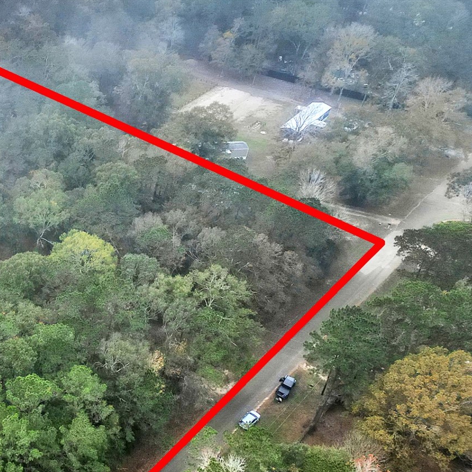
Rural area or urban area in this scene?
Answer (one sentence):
The land in this view is best described as rural.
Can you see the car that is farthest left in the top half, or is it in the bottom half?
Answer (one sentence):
The car that is farthest left is in the bottom half of the image.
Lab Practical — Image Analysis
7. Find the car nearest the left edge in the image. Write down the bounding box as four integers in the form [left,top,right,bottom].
[239,411,261,434]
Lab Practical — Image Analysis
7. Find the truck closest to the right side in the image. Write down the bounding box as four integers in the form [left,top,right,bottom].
[275,377,297,401]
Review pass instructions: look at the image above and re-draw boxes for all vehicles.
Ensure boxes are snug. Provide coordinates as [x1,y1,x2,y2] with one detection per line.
[275,377,297,401]
[239,411,261,434]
